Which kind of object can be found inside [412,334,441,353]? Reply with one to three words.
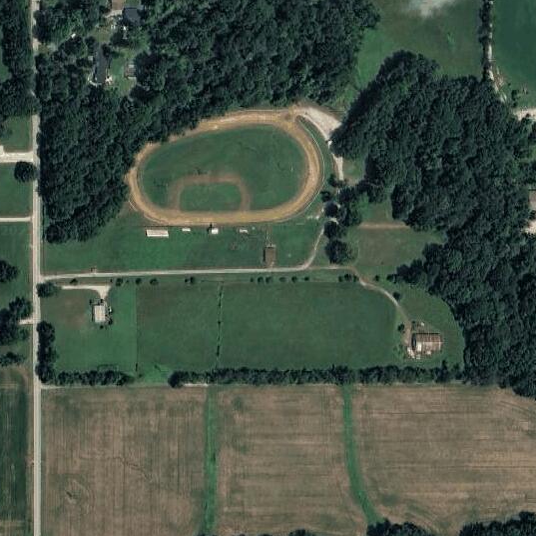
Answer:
barn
